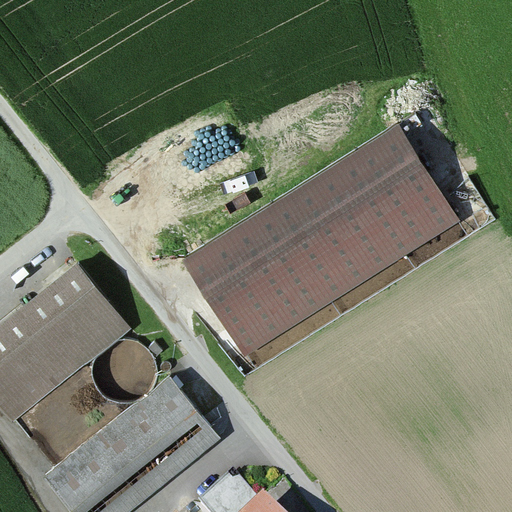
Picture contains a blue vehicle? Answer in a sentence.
Yes, the image includes a blue vehicle.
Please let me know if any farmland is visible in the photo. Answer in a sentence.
Yes, the picture does contain farmland.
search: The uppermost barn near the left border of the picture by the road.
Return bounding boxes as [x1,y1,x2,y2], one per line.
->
[0,262,133,420]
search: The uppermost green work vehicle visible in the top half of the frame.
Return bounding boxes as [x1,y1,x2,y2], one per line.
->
[110,184,133,205]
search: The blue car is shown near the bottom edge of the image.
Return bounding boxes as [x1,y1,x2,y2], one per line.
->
[196,475,216,494]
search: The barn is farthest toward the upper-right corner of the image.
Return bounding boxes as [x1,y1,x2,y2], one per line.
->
[184,123,459,354]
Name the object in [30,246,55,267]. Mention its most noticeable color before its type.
white vehicle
